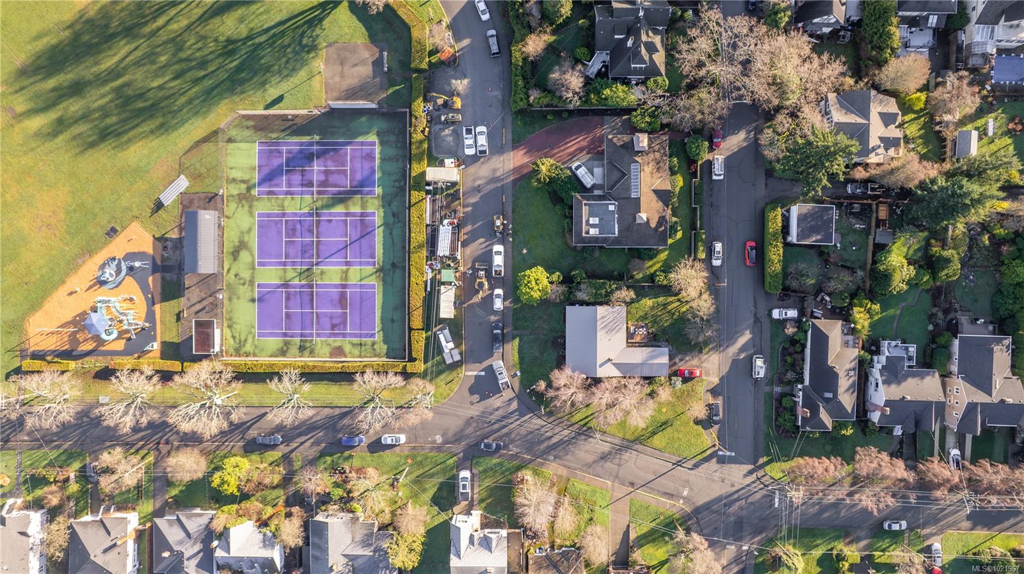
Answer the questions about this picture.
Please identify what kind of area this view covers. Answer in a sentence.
This image shows a residential area.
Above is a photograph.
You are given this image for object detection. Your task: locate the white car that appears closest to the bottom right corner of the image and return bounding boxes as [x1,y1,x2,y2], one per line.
[931,542,944,566]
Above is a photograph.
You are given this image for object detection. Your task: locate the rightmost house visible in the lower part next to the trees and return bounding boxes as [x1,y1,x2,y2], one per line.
[940,317,1024,435]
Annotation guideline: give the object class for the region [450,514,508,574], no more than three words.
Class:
house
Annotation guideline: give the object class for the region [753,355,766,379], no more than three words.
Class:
vehicle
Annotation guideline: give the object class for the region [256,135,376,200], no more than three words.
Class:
tennis court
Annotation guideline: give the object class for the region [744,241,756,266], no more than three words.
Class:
vehicle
